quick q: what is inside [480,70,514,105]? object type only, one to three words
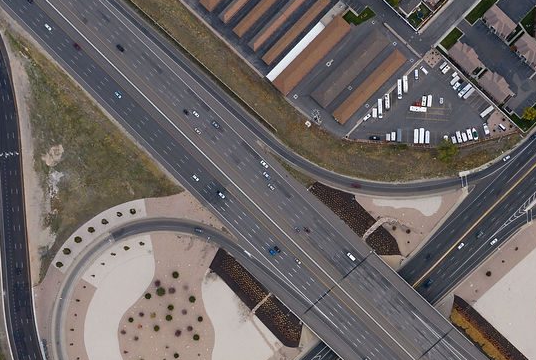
building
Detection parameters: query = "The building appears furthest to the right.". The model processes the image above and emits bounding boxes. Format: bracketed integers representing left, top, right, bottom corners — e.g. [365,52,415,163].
[515,34,536,70]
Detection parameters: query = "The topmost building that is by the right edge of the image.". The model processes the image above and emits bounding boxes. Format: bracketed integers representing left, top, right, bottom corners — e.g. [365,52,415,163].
[483,5,517,41]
